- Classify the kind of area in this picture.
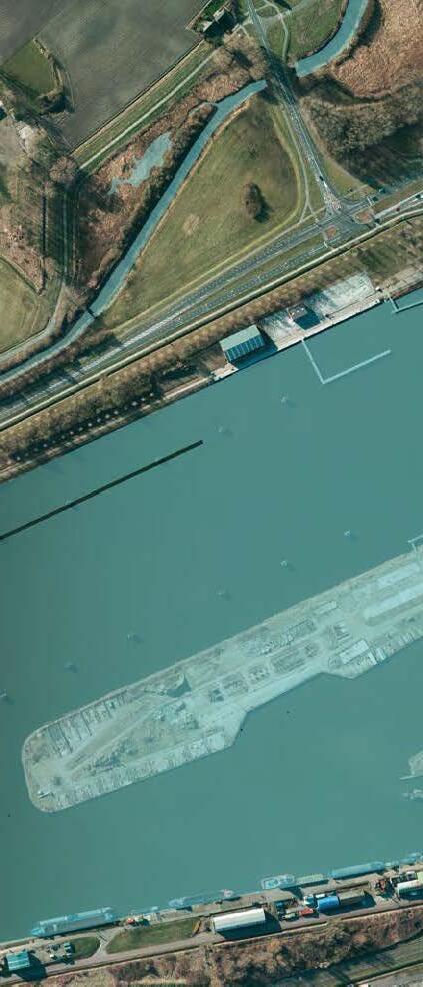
port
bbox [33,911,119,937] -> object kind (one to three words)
ship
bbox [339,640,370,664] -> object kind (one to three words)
shed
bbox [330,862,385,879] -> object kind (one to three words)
ship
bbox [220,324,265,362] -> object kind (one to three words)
building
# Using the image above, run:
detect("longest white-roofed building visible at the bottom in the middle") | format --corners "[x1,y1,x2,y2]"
[213,909,266,932]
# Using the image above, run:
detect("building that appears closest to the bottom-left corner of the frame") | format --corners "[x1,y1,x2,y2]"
[5,951,30,972]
